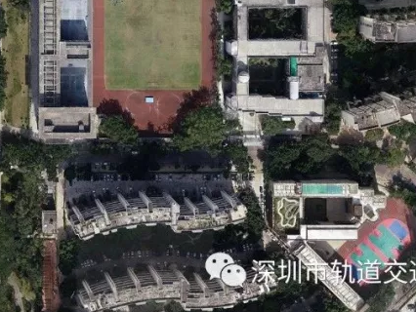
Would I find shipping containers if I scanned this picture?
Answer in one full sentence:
No, no shipping container is visible in the scene.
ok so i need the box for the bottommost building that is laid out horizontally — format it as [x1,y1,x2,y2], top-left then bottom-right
[79,257,274,312]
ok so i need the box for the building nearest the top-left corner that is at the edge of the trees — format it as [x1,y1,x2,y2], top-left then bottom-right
[37,0,93,109]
